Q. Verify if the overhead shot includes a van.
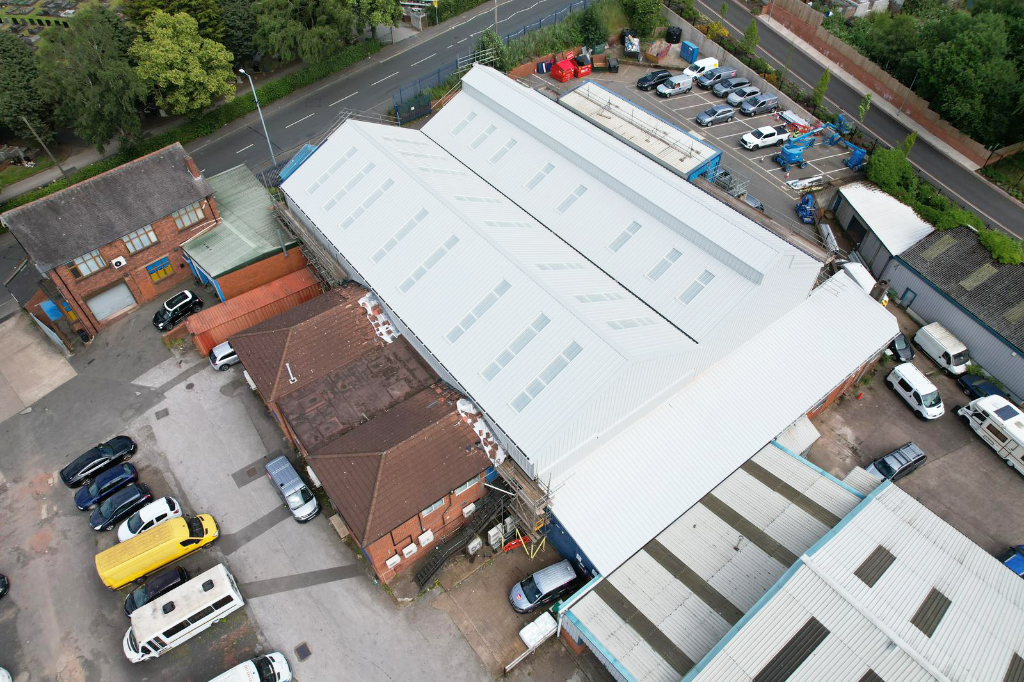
Yes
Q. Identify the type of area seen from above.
industrial area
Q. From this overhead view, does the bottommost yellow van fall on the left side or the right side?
left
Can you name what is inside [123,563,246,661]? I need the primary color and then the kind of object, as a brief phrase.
white vehicle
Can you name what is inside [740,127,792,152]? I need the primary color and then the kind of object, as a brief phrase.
white truck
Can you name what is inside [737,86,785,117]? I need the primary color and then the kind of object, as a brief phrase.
gray van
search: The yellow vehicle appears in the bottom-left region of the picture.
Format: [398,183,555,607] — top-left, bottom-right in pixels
[87,514,224,590]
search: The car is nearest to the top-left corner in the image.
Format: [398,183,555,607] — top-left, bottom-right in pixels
[154,293,203,329]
